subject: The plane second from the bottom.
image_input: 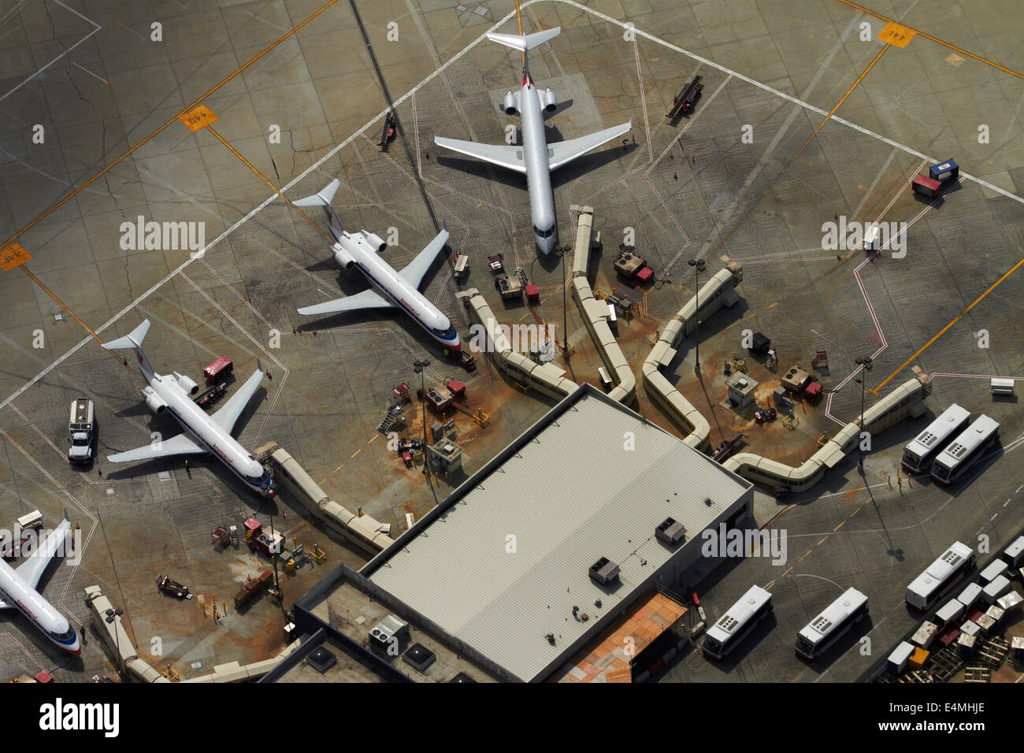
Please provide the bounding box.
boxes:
[101,324,274,498]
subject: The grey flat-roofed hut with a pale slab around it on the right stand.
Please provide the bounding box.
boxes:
[724,370,761,412]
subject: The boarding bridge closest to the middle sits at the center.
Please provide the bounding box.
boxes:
[455,288,583,408]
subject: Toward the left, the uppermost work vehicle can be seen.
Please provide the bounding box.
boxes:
[379,113,402,146]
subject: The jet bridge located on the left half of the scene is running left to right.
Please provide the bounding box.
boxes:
[84,589,315,714]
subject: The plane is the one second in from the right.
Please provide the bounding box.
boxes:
[291,183,460,352]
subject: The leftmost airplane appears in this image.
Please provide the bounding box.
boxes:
[0,509,81,653]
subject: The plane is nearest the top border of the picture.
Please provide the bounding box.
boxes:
[429,31,635,256]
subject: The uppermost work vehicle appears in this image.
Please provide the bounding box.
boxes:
[667,75,704,119]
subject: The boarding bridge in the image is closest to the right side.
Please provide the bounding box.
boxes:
[722,366,935,502]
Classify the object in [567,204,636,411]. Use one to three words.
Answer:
jet bridge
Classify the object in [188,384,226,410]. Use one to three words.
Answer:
work vehicle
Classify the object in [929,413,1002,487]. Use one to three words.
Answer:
bus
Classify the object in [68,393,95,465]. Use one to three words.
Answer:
truck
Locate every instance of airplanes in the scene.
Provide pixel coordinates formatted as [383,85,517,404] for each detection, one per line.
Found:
[291,183,460,352]
[429,31,635,256]
[0,509,81,653]
[101,324,274,498]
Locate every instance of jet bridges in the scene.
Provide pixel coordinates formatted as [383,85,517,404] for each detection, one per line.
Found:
[642,256,746,455]
[722,366,935,502]
[253,441,393,563]
[567,204,636,411]
[455,288,583,408]
[84,589,315,714]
